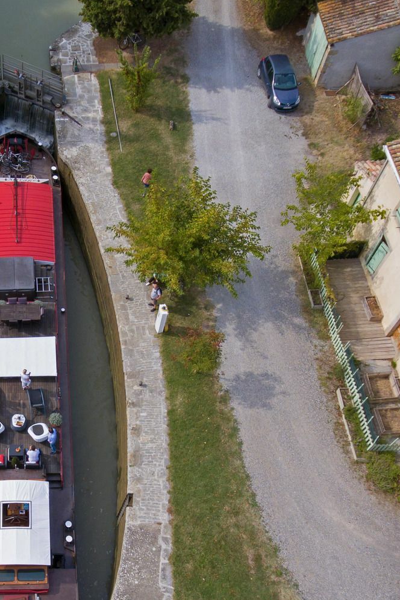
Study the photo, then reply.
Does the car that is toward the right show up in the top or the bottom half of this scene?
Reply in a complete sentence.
Seen from above, the car that is toward the right lies in the top half of the view.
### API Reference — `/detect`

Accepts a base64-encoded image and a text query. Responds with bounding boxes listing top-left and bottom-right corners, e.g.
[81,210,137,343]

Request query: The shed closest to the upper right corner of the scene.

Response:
[307,0,400,86]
